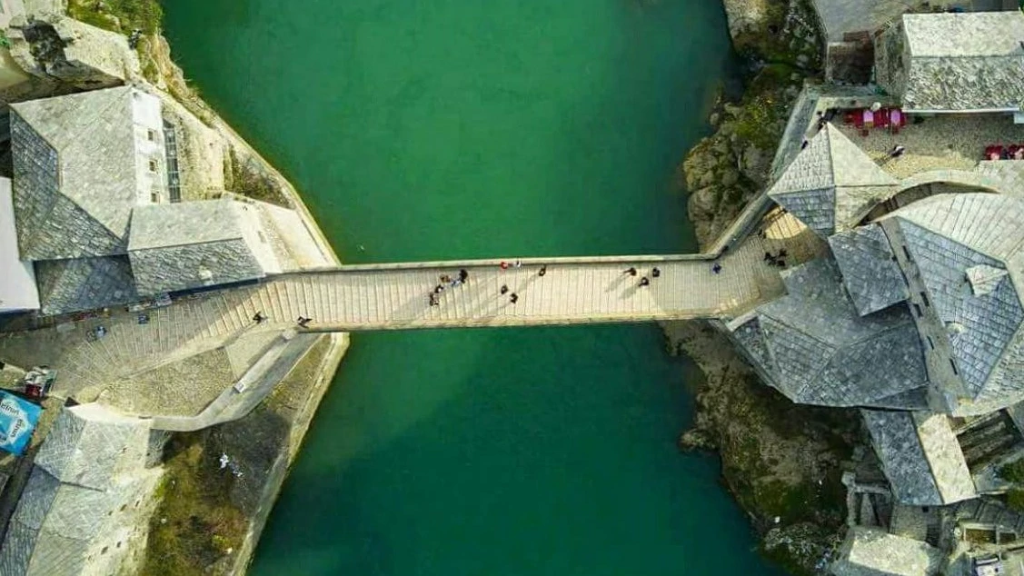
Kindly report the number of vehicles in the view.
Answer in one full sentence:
No vehicles are visible.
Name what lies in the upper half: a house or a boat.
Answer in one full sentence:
Looking in the upper half, you will find a house.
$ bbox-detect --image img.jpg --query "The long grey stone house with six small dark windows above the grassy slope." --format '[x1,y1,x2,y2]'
[0,462,168,576]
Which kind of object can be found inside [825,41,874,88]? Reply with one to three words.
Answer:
shed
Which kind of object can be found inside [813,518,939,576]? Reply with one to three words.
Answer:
house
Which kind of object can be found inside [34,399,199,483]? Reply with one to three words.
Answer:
house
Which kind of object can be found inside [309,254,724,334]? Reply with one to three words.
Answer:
bridge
